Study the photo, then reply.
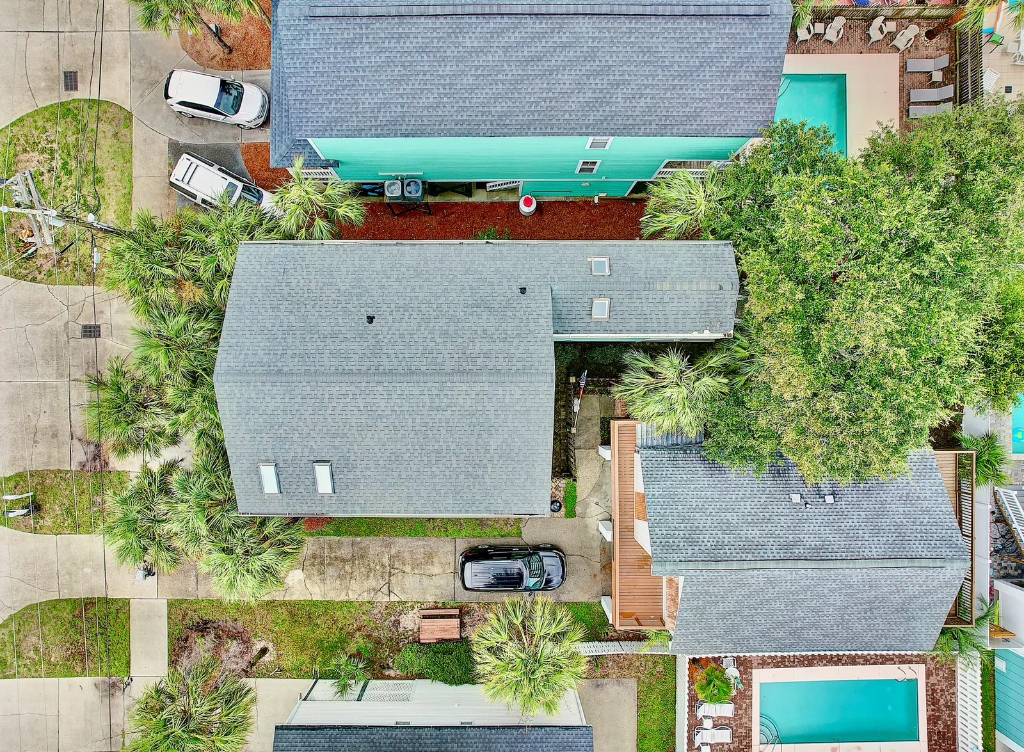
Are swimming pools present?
Yes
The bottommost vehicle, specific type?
car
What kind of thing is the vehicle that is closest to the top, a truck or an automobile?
automobile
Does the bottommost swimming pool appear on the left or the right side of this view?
right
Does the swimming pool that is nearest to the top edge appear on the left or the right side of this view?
right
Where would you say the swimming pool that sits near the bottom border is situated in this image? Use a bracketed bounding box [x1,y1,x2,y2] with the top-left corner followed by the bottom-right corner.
[752,664,929,752]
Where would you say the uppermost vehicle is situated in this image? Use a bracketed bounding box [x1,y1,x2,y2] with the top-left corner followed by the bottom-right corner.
[162,65,272,131]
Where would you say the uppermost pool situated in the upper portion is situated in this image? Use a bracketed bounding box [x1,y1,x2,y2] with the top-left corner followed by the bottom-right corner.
[737,54,899,270]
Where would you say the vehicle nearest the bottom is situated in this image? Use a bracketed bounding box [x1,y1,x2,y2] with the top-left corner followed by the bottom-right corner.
[456,544,568,598]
